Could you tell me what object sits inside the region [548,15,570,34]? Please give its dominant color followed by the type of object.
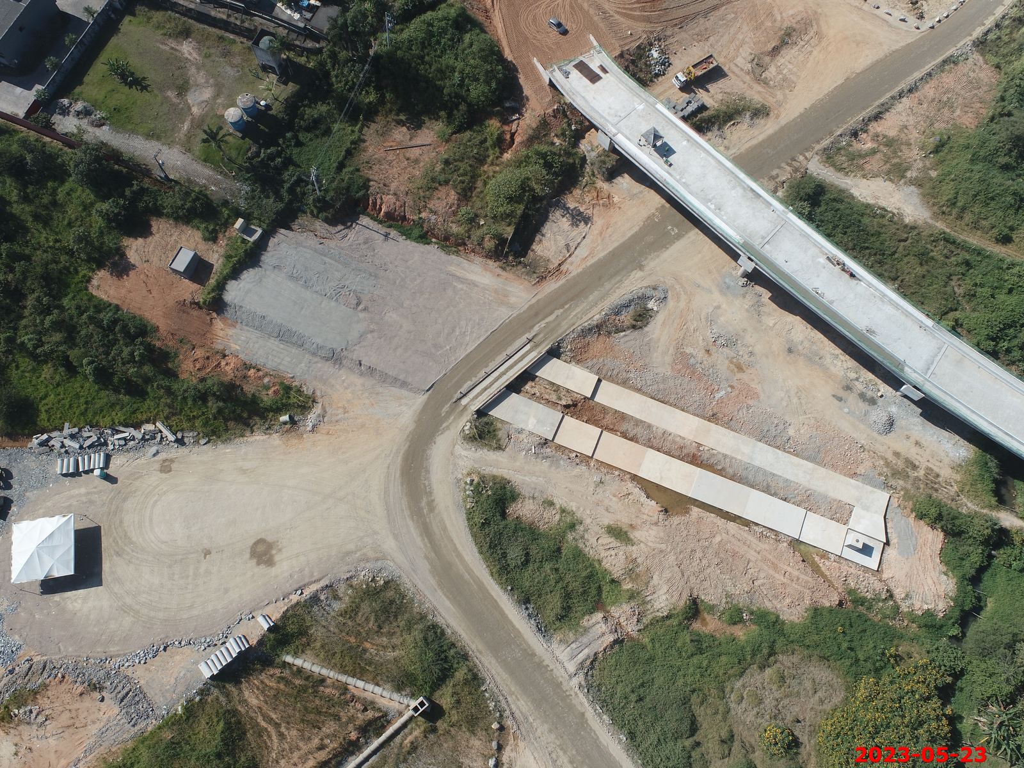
gray car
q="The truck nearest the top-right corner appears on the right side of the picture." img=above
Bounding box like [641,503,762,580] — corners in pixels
[676,54,722,85]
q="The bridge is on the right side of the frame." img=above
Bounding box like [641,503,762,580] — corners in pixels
[533,36,1024,462]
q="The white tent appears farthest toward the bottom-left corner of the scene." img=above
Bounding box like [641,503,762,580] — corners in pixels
[11,514,86,583]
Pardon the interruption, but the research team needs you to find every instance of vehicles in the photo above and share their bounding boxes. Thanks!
[676,54,722,85]
[548,15,570,34]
